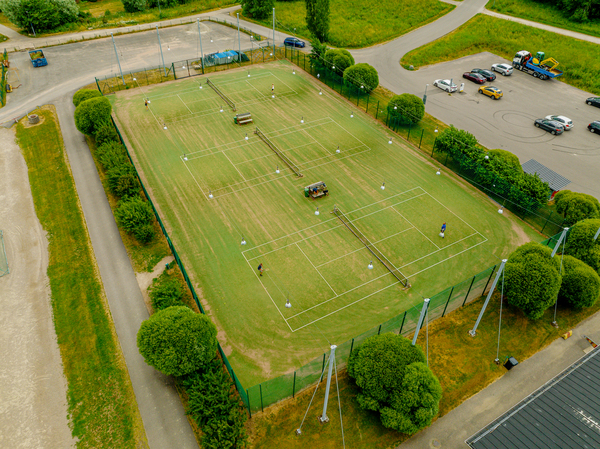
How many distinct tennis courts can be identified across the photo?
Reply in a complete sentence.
I count 3 tennis courts.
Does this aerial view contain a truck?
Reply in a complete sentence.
Yes, the image includes a truck.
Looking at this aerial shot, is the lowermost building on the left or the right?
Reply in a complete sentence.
It is on the right.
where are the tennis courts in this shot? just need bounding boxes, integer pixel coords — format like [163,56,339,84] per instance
[177,115,374,202]
[237,184,493,336]
[139,71,301,128]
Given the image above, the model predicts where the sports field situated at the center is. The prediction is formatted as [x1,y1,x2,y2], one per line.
[104,58,557,412]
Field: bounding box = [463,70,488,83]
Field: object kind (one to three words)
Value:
vehicle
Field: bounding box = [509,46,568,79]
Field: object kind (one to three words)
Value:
truck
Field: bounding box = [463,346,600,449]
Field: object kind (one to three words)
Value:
building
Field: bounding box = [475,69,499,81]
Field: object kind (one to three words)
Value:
vehicle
